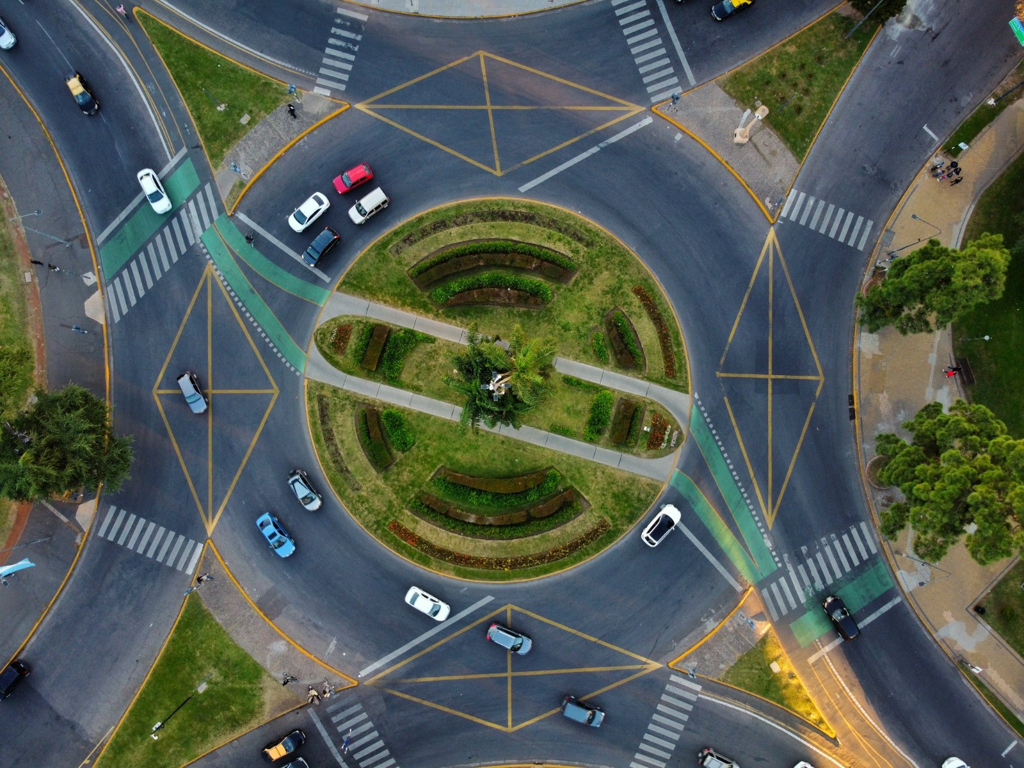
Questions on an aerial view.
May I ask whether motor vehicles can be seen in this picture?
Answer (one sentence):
Yes, the image includes a motor vehicle.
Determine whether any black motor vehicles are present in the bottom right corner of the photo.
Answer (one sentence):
Yes, there is a black motor vehicle in the bottom right corner of the photo.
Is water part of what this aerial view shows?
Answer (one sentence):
No, no water is visible.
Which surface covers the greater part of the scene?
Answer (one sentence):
For the most part, this view shows paved ground.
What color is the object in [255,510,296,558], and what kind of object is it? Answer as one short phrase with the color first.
blue car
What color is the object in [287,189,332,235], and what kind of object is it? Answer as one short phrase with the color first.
white car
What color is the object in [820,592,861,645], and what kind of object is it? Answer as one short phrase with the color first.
black car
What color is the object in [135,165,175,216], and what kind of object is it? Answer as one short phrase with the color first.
white car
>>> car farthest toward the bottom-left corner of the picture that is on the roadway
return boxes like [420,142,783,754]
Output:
[0,659,31,701]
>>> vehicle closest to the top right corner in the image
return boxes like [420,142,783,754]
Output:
[710,0,759,25]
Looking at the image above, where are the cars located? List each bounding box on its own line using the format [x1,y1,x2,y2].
[560,694,604,727]
[287,189,332,235]
[710,0,759,25]
[255,510,296,558]
[0,8,21,51]
[65,69,104,119]
[402,585,451,621]
[0,659,31,701]
[641,502,681,551]
[301,223,342,269]
[330,161,376,196]
[484,621,532,655]
[284,467,324,512]
[698,742,745,768]
[261,725,311,764]
[273,752,314,768]
[347,184,392,224]
[820,592,861,645]
[174,368,211,415]
[940,750,968,768]
[135,165,175,216]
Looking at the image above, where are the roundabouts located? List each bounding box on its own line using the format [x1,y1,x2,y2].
[303,195,692,584]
